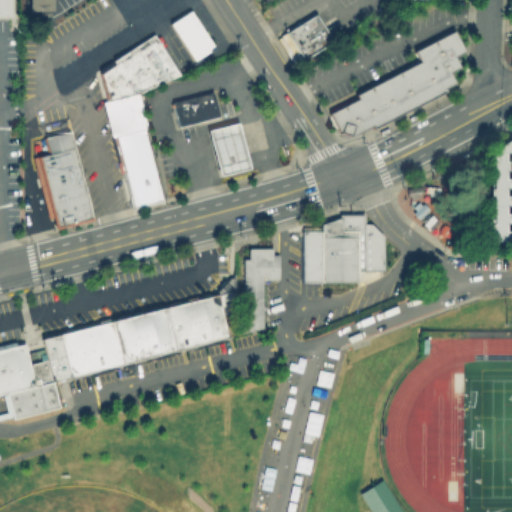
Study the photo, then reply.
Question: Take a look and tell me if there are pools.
No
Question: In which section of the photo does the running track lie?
bottom right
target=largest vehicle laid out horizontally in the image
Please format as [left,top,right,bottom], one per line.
[130,245,160,258]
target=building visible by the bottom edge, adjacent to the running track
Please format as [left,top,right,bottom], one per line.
[362,480,404,512]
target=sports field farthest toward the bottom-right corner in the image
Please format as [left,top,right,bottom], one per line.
[465,362,512,512]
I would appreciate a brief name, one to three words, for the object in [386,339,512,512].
running track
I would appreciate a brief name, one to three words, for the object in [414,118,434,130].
vehicle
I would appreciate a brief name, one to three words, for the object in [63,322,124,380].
building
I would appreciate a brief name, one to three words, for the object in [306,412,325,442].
tent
